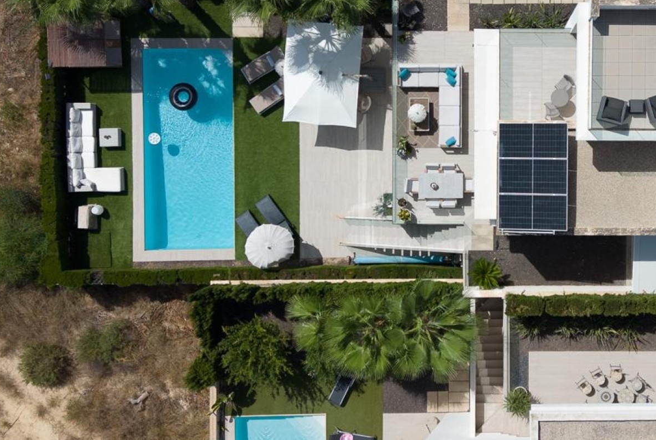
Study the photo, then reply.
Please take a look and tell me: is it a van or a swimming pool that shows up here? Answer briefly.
swimming pool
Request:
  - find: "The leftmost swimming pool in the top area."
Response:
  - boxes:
[143,49,233,250]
